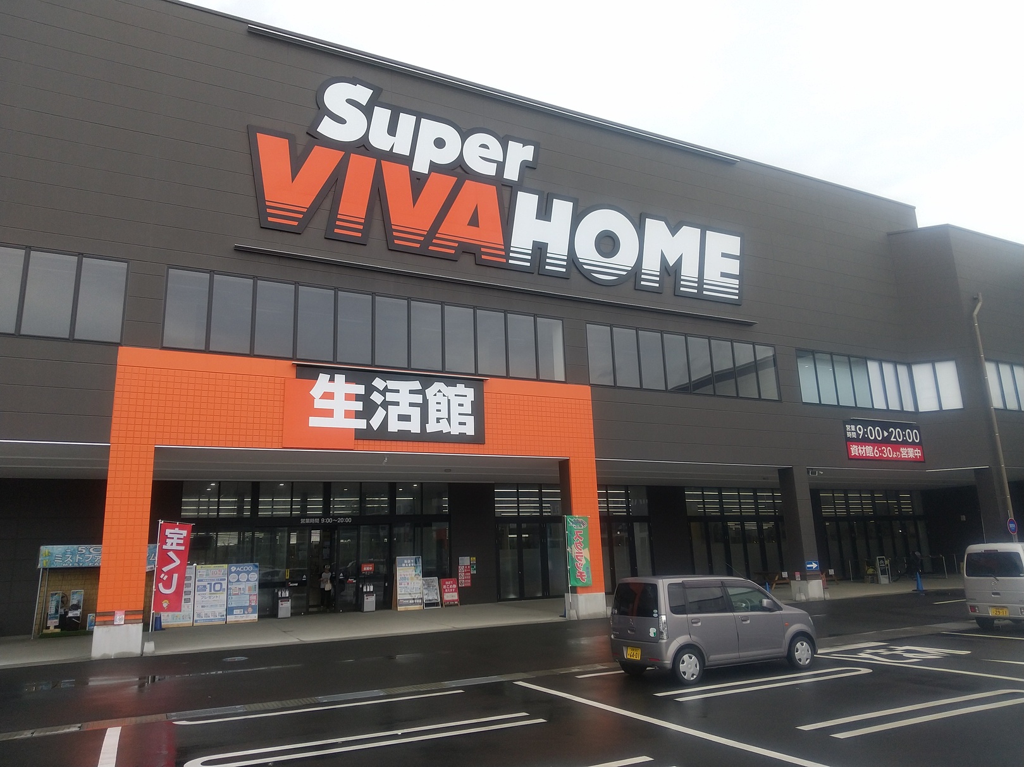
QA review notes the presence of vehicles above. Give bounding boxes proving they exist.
[608,557,816,685]
[966,522,1024,629]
